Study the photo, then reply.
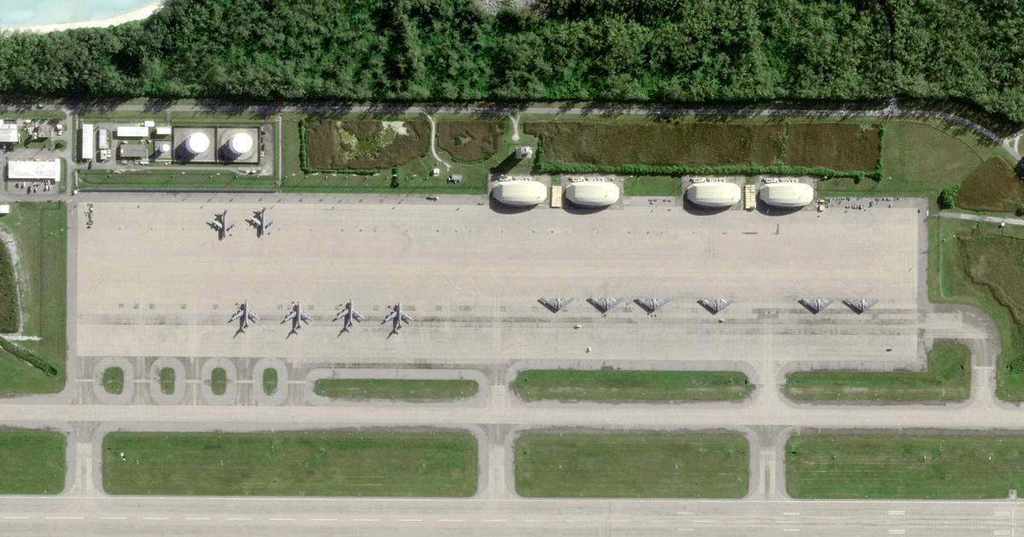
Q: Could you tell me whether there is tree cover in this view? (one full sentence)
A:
Yes, tree cover can be seen from above here.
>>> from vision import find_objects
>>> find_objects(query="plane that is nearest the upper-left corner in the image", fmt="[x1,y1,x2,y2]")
[213,210,239,238]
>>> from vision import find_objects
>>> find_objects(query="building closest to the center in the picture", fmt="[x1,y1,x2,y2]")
[492,182,546,208]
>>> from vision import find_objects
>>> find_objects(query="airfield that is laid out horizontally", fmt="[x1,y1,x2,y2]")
[0,174,1024,537]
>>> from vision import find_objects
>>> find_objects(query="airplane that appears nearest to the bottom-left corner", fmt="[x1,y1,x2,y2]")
[233,300,260,326]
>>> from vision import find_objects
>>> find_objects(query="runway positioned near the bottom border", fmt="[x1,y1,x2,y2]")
[0,495,1024,537]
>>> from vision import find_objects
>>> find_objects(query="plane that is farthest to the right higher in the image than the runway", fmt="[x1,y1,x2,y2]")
[846,299,880,313]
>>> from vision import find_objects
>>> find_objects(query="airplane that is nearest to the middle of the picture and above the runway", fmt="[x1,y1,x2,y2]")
[542,298,575,311]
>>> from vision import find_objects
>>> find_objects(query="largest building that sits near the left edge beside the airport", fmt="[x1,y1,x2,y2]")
[7,161,55,178]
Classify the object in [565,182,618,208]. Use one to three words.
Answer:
hangar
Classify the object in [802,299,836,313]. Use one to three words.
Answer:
airplane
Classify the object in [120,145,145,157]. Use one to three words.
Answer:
building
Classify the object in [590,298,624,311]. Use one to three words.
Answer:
airplane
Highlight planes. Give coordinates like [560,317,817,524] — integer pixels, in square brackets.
[542,298,575,311]
[590,298,624,311]
[338,300,365,326]
[213,210,239,238]
[387,303,413,329]
[701,299,735,313]
[846,299,880,313]
[233,300,260,326]
[637,298,671,311]
[286,302,312,328]
[251,208,277,235]
[802,299,836,313]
